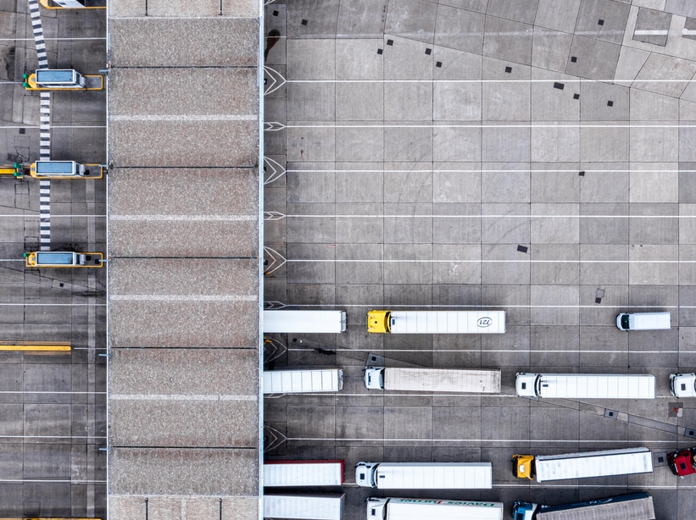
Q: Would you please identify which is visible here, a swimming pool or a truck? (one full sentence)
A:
The image shows a truck.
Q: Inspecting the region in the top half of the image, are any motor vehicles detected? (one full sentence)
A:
No, no motor vehicle can be made out in the top half of the image.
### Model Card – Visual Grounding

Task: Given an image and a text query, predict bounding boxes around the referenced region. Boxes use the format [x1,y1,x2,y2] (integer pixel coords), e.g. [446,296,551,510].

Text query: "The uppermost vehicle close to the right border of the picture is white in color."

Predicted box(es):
[618,310,672,332]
